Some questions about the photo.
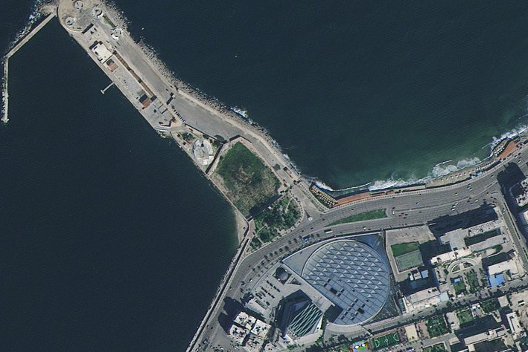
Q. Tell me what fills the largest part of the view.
water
